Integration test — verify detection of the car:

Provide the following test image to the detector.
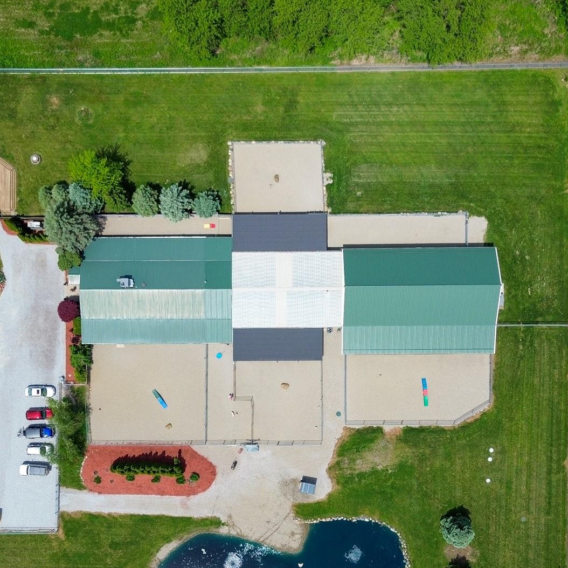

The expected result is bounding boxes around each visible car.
[26,444,55,458]
[20,462,53,477]
[26,407,56,422]
[26,384,58,399]
[24,426,55,440]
